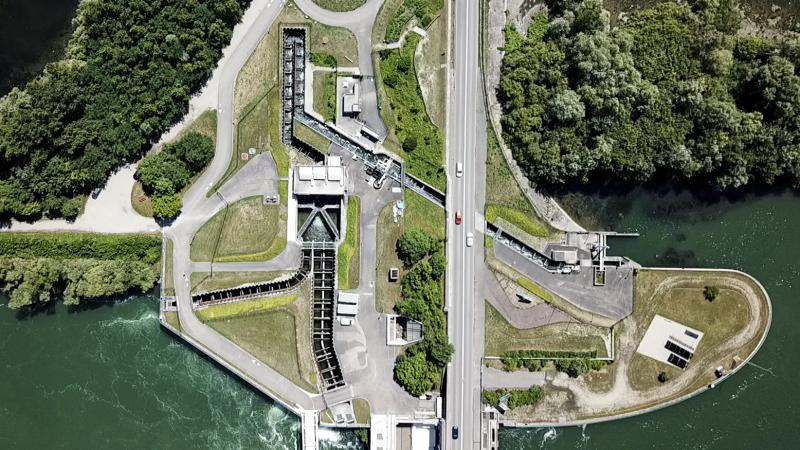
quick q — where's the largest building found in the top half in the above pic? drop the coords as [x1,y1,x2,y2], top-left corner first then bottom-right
[294,156,348,200]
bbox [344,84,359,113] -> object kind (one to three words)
building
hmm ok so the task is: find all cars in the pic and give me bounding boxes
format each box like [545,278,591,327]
[466,232,473,246]
[452,426,459,441]
[456,162,462,177]
[419,395,430,401]
[425,393,434,400]
[455,211,462,224]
